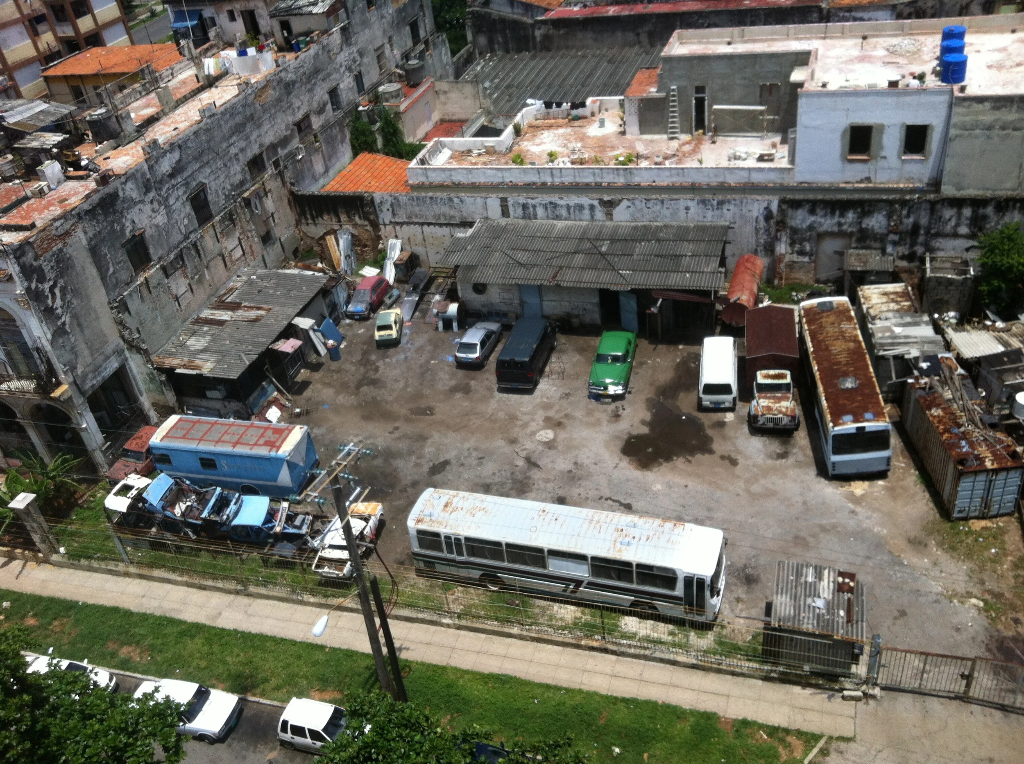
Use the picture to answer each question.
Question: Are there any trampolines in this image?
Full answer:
No, there appears to be no trampoline in this shot.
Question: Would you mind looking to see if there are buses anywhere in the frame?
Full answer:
Yes, there's a bus here.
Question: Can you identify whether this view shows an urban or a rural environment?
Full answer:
From above, the setting appears urban.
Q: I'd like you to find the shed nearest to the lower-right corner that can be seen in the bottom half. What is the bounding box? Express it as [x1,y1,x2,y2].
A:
[763,561,864,674]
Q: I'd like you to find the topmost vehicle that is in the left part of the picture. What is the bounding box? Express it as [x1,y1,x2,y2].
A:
[346,272,397,320]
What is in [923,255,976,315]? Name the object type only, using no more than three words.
shed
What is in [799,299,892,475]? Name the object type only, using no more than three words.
bus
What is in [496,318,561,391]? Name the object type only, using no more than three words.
van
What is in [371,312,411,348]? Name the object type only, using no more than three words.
car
